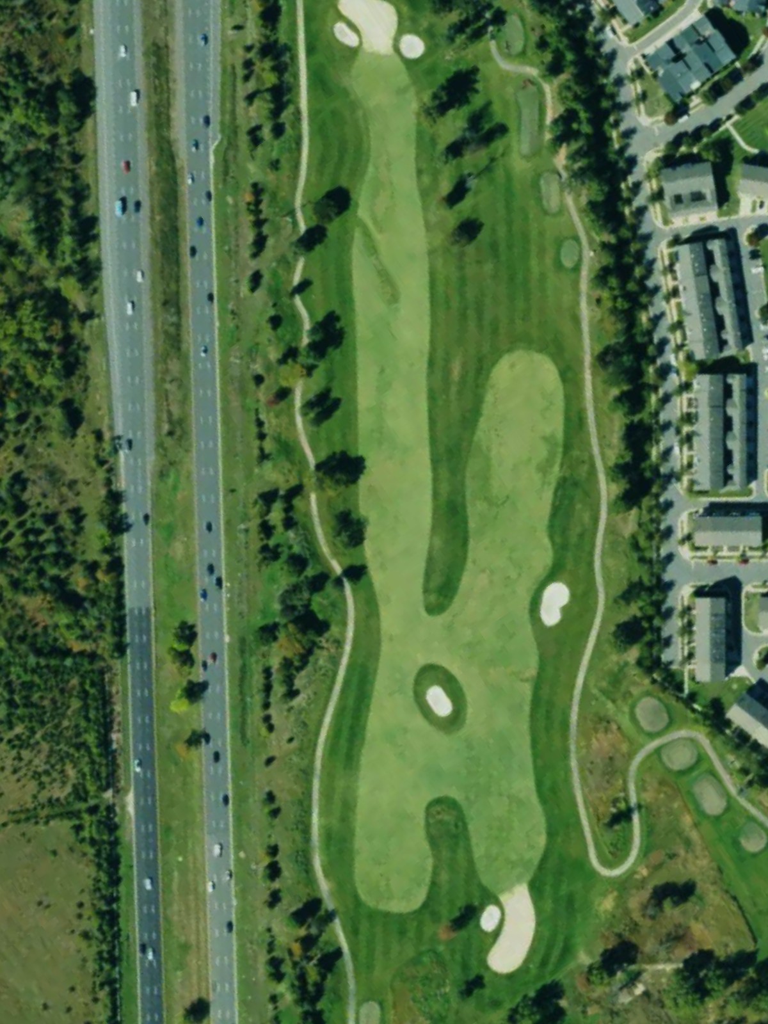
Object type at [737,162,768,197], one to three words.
house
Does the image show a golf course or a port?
golf course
